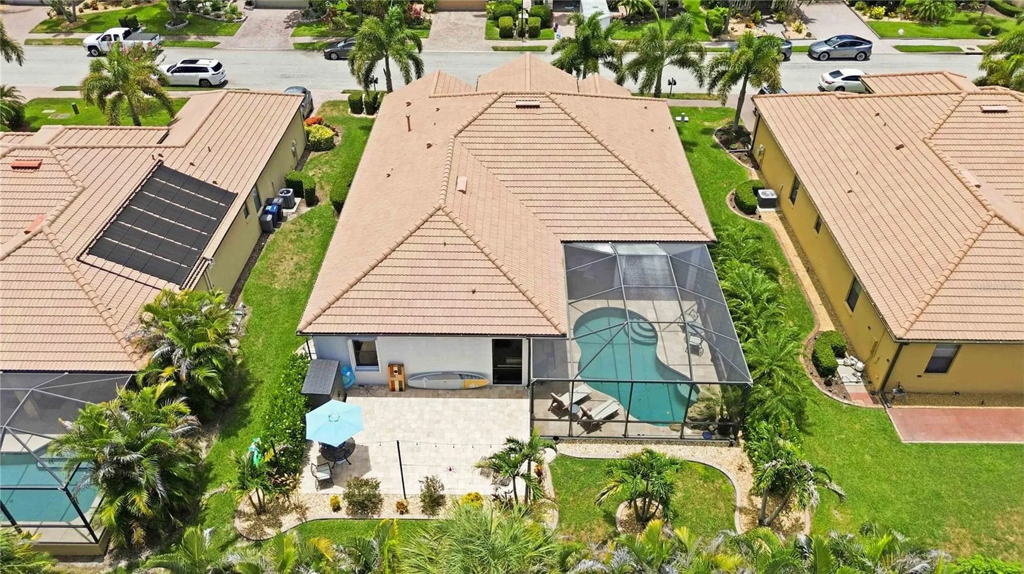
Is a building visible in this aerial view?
Yes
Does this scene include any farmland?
No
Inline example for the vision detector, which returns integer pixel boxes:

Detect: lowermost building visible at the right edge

[738,72,1024,407]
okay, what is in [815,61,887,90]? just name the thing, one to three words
car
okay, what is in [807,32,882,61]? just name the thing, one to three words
car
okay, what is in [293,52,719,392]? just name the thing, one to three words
house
